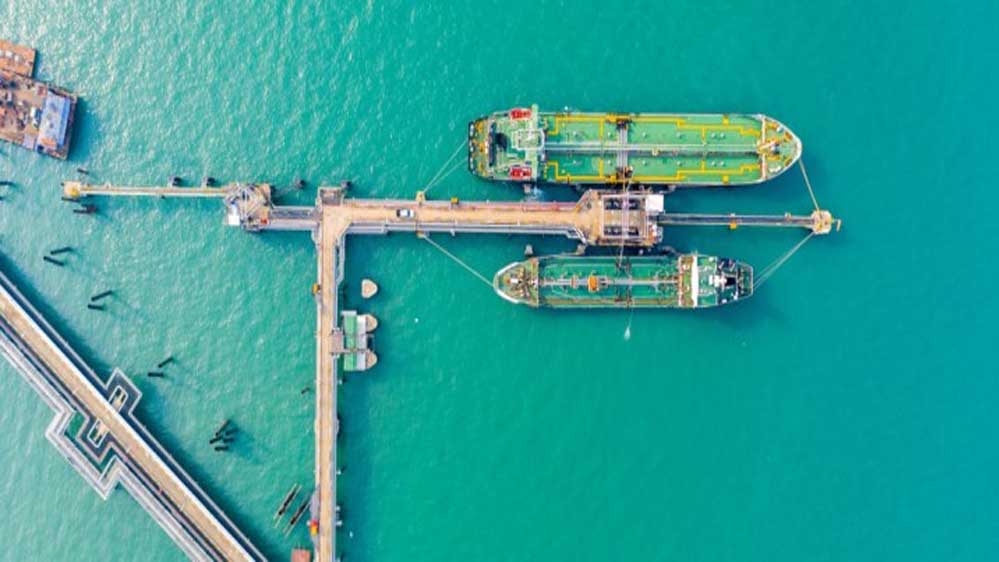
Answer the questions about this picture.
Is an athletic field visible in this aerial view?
No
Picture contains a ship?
Yes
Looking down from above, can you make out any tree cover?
No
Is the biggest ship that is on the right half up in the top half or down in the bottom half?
top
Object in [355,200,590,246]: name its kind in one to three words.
pier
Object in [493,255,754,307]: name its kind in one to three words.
ship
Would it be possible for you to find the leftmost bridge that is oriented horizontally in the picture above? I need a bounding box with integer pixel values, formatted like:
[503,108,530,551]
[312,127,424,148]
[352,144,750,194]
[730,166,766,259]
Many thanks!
[80,183,229,196]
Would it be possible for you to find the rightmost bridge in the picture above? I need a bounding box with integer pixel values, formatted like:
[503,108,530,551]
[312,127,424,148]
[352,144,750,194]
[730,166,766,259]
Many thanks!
[655,212,814,229]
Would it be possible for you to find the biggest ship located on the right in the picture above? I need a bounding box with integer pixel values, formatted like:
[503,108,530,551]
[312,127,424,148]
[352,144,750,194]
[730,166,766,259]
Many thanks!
[470,104,805,189]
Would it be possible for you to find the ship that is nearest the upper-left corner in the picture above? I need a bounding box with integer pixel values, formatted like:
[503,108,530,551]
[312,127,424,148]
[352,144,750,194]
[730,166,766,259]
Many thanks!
[0,41,37,78]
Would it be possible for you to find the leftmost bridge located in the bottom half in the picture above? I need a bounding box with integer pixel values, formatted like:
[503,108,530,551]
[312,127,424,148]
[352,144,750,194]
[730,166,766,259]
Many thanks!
[0,271,271,562]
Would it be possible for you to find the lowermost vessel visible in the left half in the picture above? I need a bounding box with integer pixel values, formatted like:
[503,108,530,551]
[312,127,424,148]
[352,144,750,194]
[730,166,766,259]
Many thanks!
[0,66,81,160]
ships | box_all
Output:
[493,255,754,307]
[0,41,37,78]
[0,66,81,160]
[470,104,805,189]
